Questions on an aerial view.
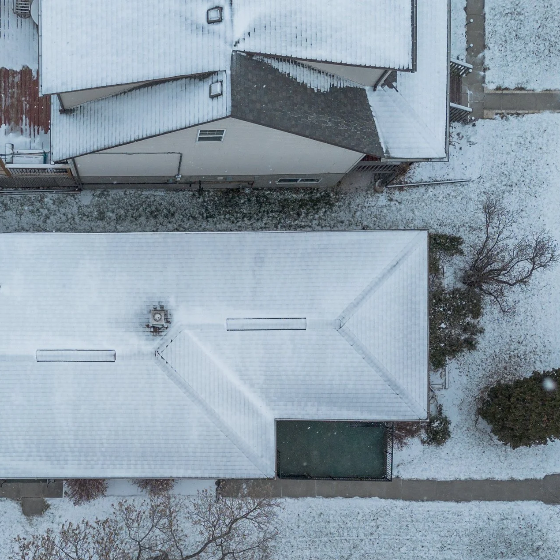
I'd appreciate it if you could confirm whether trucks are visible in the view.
No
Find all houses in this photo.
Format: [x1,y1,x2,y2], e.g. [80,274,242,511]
[0,233,428,485]
[38,0,474,192]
